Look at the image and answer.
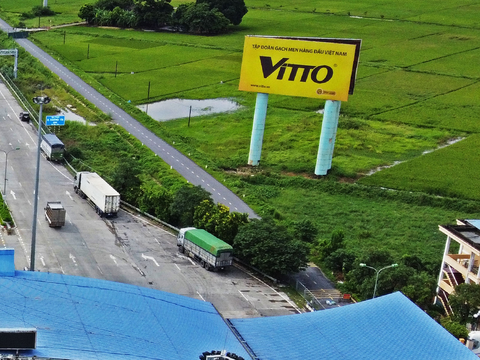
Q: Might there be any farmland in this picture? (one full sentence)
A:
Yes, there's farmland in this view.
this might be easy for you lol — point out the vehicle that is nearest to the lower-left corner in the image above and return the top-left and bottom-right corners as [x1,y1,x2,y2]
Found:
[47,202,65,225]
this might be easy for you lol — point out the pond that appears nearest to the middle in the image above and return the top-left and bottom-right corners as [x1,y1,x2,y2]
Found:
[136,98,241,120]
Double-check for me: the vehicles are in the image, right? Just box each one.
[21,111,30,120]
[41,135,62,158]
[75,175,119,217]
[174,228,231,268]
[47,202,65,225]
